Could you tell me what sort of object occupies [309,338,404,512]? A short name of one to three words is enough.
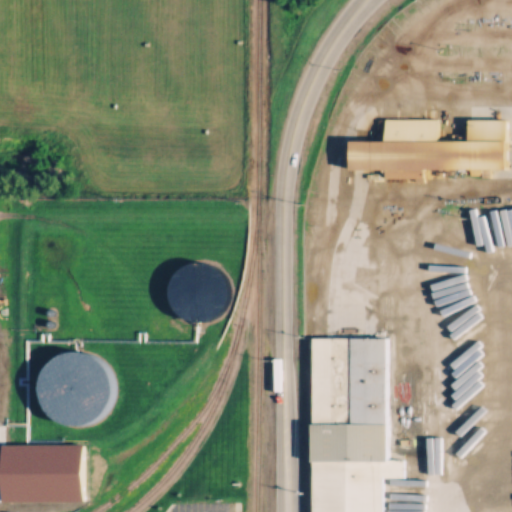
building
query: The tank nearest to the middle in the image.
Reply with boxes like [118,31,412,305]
[168,261,234,326]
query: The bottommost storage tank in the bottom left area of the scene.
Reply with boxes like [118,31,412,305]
[38,351,116,428]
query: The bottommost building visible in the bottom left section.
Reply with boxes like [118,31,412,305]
[0,444,88,503]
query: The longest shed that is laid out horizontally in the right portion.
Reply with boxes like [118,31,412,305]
[347,119,508,183]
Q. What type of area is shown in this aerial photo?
industrial area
